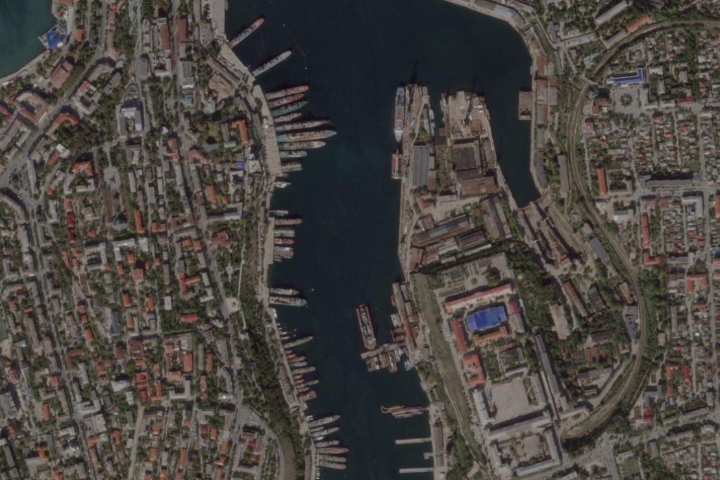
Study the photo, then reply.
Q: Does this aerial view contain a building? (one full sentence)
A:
Yes, the photo shows a building.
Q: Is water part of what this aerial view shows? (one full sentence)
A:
Yes, the picture does contain water.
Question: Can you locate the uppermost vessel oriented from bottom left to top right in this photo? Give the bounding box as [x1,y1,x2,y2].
[227,20,263,48]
